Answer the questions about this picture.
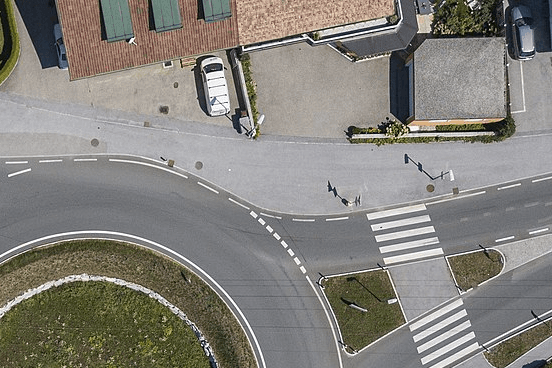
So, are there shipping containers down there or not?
No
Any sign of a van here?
Yes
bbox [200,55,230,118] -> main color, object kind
white van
